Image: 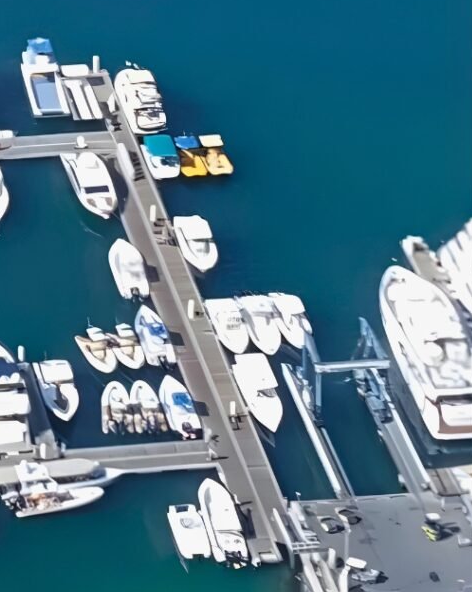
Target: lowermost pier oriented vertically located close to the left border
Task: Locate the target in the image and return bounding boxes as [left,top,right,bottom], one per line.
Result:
[18,362,59,452]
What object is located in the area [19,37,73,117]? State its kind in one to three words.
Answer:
boat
